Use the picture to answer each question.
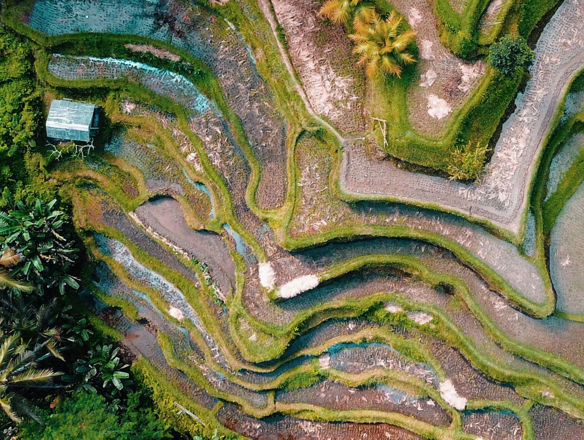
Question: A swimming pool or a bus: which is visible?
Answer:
swimming pool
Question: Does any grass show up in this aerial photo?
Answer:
Yes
